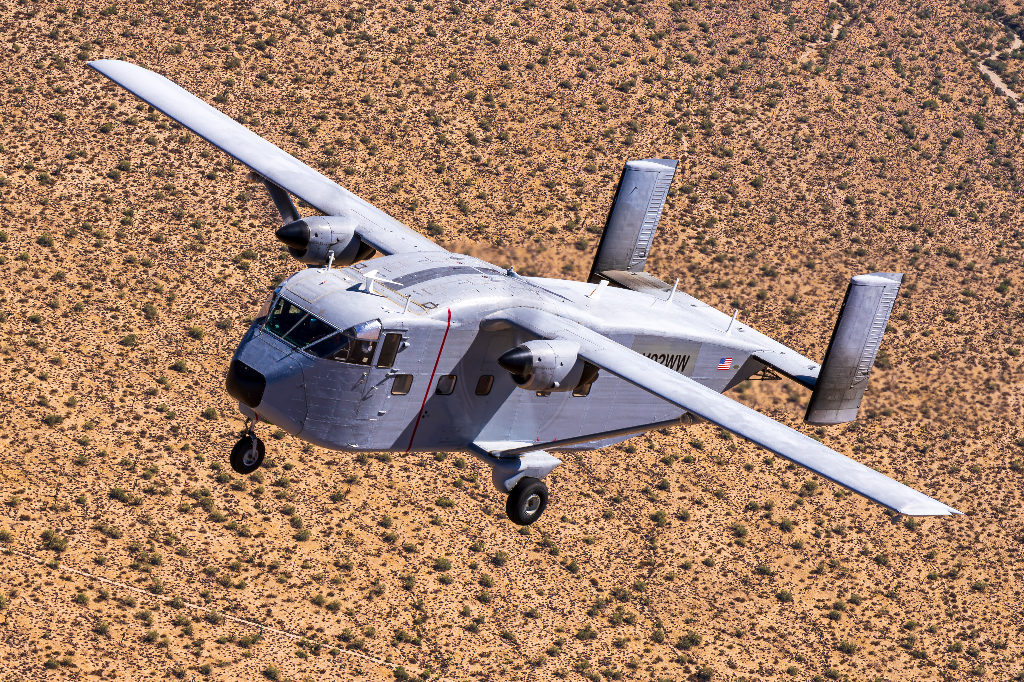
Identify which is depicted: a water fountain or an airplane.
airplane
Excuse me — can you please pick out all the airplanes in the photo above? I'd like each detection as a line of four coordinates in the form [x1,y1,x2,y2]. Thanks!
[87,58,971,528]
